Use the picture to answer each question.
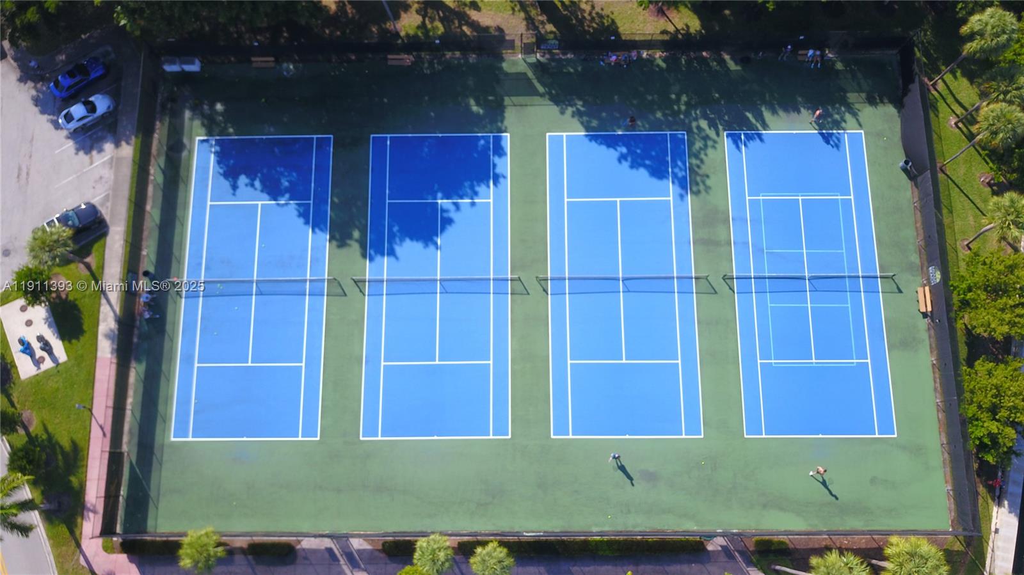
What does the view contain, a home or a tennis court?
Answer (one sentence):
Of the two, only a tennis court appears.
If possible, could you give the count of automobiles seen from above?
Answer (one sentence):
The number of automobiles here is 3.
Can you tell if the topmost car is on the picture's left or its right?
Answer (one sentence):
You can find the topmost car on the left side of the picture.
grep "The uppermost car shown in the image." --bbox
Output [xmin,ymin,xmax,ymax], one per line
[46,57,106,98]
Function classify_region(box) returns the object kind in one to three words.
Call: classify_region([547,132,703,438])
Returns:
tennis court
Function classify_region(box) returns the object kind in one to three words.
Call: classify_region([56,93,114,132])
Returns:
car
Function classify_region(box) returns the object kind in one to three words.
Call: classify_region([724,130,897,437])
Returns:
tennis court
